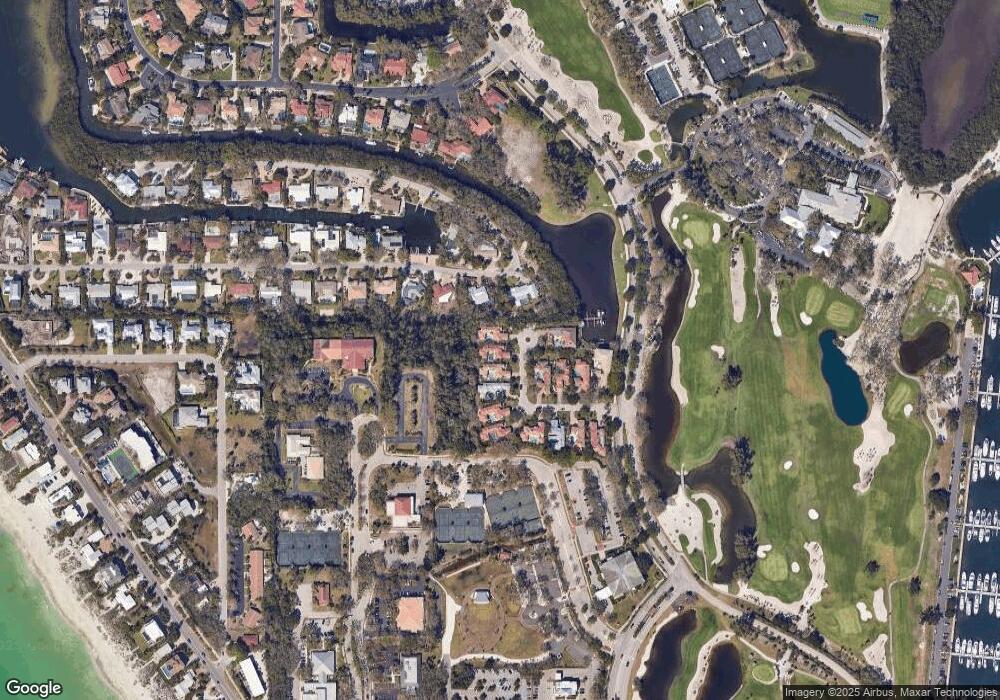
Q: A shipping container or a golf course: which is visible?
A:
golf course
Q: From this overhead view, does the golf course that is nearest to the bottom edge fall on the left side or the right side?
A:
right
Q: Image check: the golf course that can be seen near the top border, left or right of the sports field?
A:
to the left of it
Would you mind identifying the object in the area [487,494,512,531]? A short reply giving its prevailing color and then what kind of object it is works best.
gray tennis court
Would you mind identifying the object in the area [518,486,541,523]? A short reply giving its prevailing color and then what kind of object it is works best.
gray tennis court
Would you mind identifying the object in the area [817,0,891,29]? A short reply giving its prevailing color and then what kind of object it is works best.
green sports field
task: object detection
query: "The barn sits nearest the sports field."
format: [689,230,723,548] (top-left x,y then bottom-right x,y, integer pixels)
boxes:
[820,106,872,149]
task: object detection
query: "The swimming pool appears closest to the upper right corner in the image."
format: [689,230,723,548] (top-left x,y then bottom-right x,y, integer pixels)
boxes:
[970,284,984,304]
